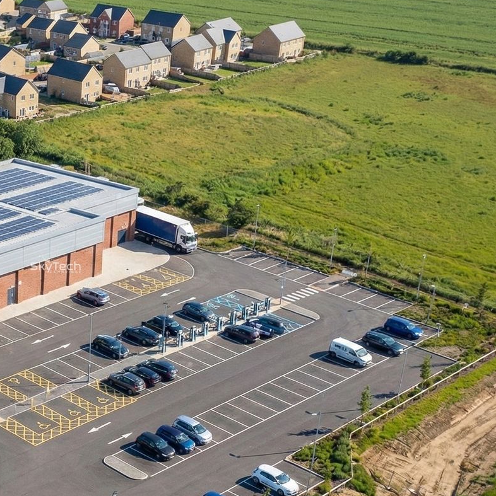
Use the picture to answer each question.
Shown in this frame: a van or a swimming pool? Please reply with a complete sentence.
This aerial view contains a van.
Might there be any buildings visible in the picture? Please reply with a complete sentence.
Yes, there is a building in the image.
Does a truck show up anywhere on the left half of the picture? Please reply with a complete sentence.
Yes, the scene does show a truck on the left half of the picture.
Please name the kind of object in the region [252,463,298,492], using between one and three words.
car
